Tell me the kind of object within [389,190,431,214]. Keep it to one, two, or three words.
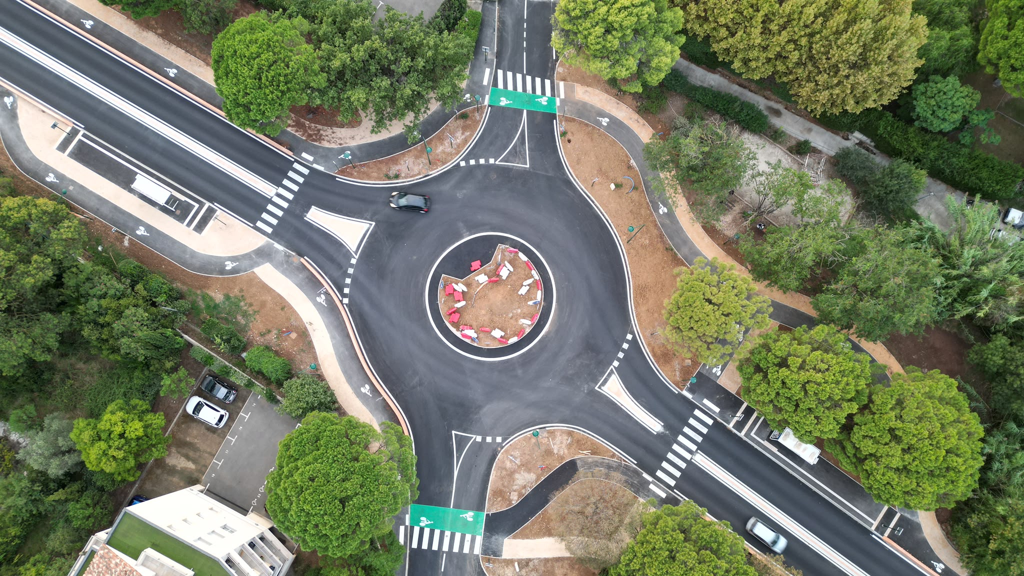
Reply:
car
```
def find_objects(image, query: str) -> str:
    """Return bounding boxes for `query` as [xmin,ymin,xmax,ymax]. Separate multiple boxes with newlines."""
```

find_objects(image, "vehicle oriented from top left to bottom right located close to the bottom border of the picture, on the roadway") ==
[744,516,787,554]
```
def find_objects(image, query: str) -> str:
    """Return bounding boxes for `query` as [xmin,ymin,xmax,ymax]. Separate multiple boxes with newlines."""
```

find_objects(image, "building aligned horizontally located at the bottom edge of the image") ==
[66,481,297,576]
